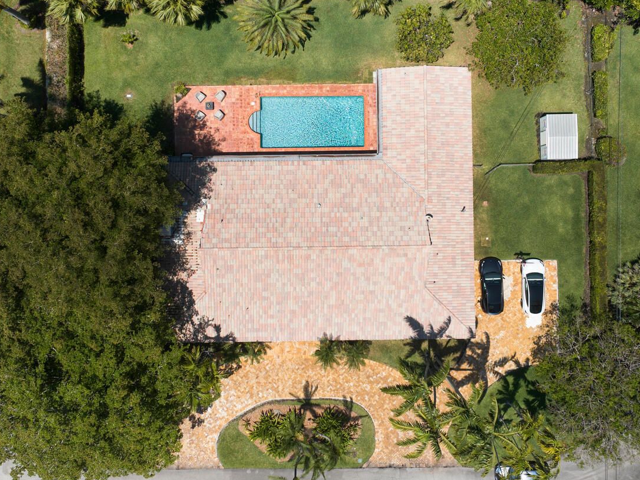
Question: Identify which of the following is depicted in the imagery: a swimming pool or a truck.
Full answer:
Visible in the photo is a swimming pool.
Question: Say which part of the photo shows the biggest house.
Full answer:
The biggest house is located in the center region of the scene.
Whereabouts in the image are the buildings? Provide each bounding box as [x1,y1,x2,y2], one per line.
[161,65,475,341]
[540,113,581,161]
